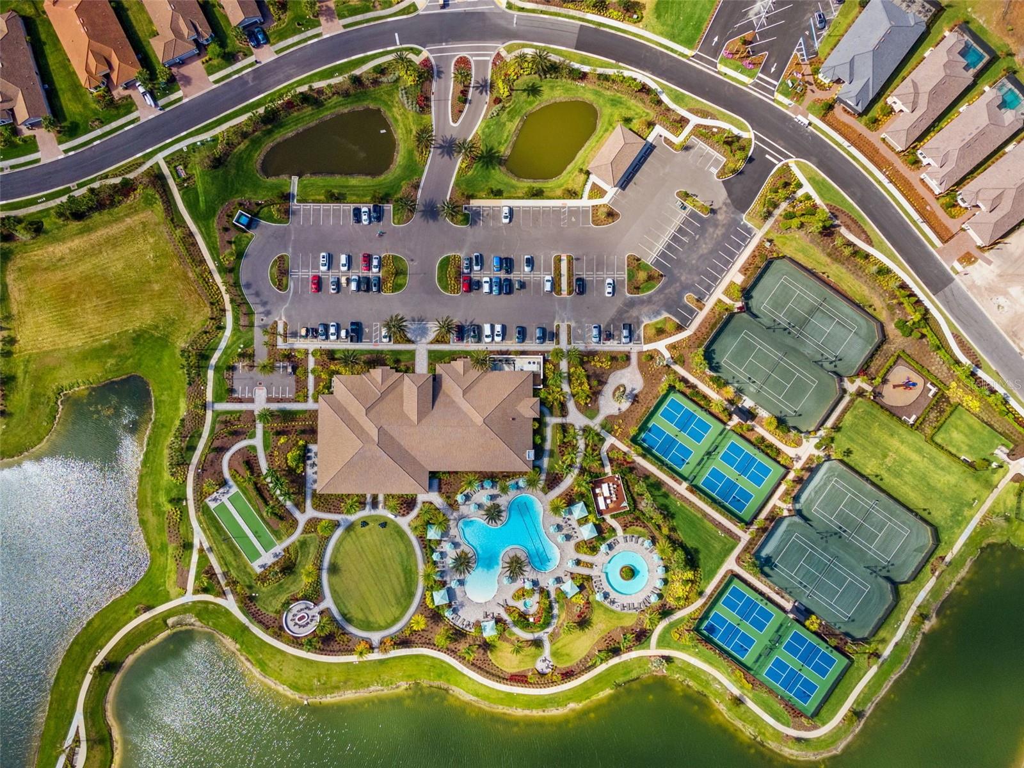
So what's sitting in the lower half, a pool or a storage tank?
pool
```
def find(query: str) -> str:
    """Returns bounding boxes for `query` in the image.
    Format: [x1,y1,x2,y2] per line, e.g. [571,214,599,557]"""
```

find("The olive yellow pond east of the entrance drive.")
[506,100,598,180]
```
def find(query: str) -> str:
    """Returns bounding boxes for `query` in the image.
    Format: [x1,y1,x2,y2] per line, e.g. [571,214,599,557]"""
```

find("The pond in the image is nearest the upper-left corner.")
[259,107,398,179]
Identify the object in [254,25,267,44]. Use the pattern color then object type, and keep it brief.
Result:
blue vehicle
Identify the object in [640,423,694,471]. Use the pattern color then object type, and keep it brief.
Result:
blue sports court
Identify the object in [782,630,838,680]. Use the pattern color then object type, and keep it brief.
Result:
blue sports court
